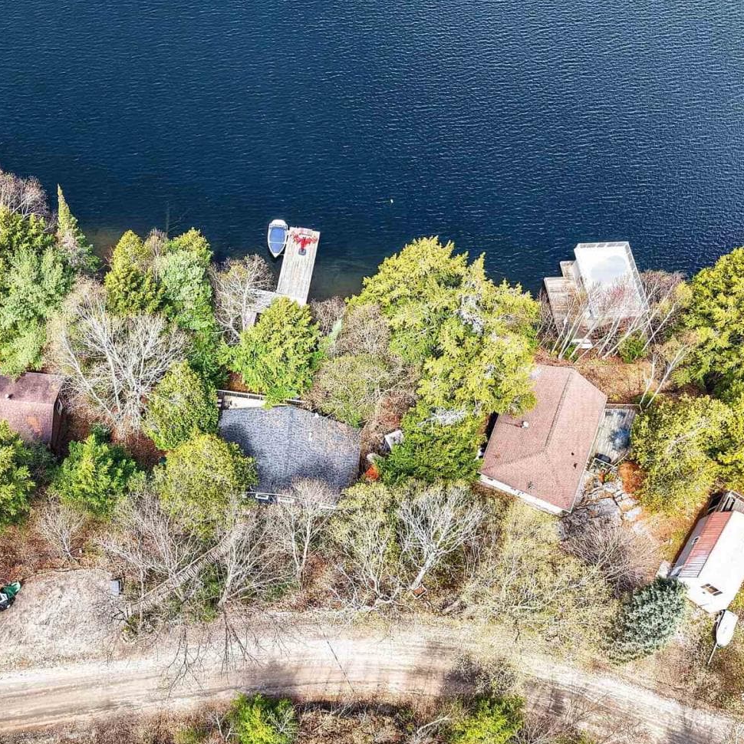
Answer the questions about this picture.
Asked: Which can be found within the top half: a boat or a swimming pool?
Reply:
boat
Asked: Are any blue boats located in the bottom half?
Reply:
No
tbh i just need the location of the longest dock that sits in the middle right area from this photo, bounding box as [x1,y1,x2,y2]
[543,274,586,332]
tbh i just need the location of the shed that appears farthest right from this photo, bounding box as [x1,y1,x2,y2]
[669,510,744,615]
